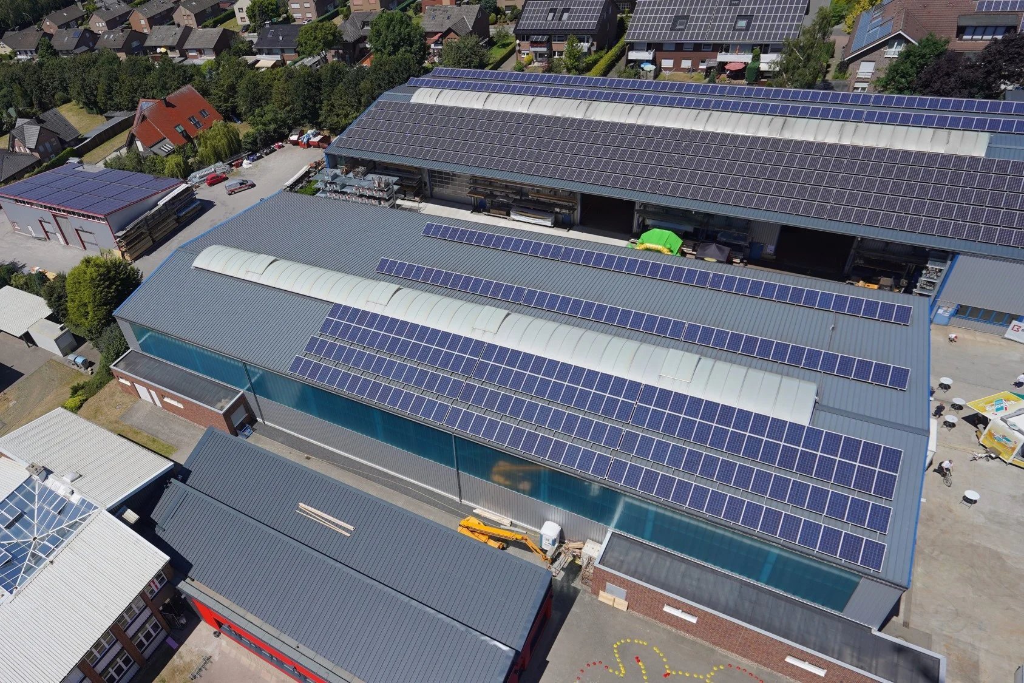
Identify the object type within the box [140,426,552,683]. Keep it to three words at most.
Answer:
building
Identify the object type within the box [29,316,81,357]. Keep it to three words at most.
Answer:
shed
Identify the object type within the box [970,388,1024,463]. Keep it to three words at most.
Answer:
trailer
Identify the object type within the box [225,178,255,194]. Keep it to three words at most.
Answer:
vehicle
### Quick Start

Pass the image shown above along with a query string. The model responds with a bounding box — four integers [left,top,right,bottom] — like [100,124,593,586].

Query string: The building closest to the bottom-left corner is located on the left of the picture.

[0,407,188,683]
